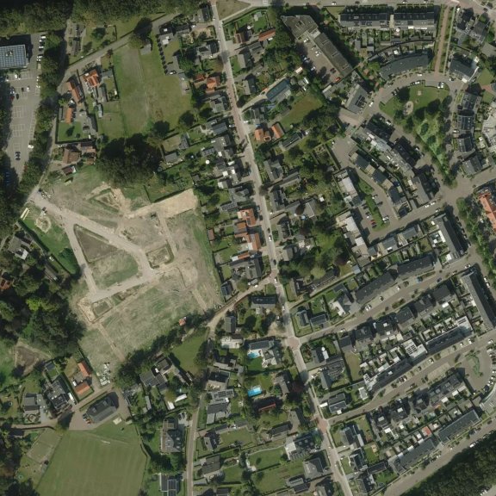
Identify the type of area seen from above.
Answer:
residential area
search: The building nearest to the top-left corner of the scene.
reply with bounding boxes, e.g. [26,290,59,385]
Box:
[0,44,27,68]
